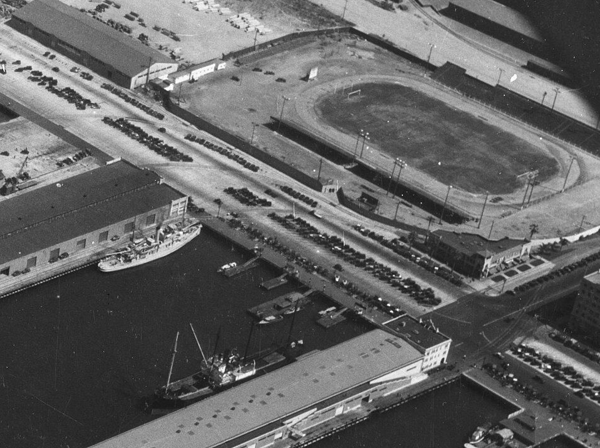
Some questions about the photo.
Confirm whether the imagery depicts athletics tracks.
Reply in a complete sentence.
Yes, there is an athletics track in the image.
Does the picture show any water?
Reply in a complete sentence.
Yes, there is water in the image.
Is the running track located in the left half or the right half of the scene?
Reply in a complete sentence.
It is on the right.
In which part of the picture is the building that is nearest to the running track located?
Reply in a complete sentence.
The building that is nearest to the running track appears toward the right of the photo.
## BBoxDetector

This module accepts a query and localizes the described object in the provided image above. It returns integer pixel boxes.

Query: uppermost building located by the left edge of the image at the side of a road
[11,0,181,88]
